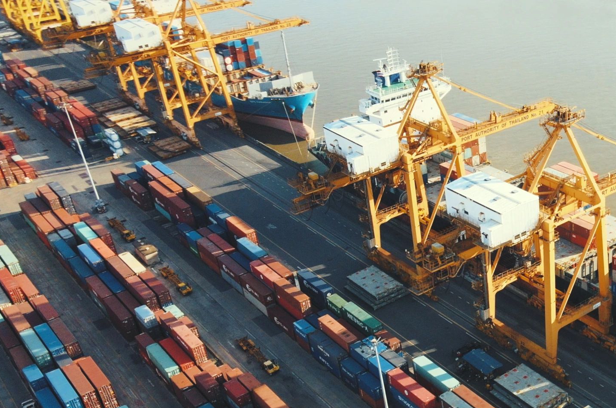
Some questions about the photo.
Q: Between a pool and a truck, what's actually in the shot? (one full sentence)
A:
Looking from above, you can make out a truck.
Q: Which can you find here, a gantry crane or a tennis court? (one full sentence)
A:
Looking from above, you can make out a gantry crane.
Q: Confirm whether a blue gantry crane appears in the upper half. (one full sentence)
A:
No, looking in the upper half, there is no blue gantry crane.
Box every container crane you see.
[16,0,78,47]
[43,0,261,121]
[399,111,616,390]
[0,0,56,32]
[275,60,576,296]
[80,0,325,151]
